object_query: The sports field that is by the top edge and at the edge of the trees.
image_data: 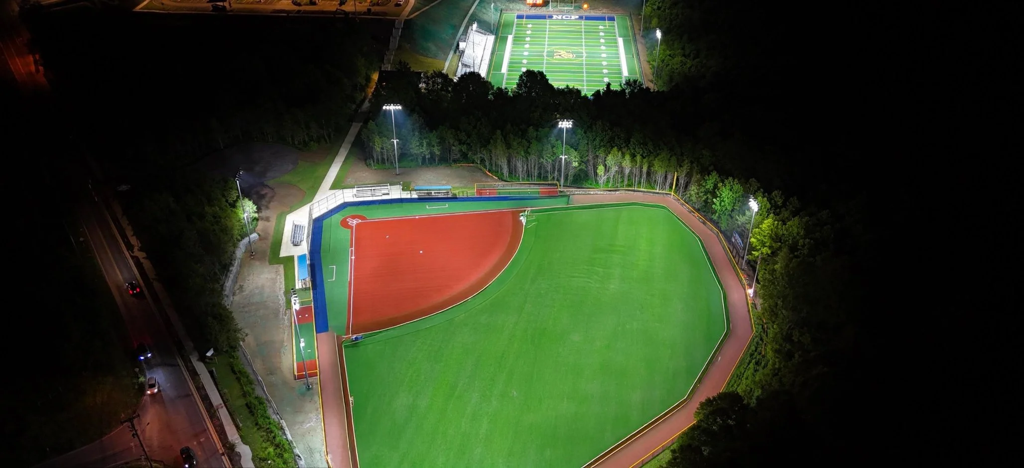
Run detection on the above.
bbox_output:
[506,19,623,96]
